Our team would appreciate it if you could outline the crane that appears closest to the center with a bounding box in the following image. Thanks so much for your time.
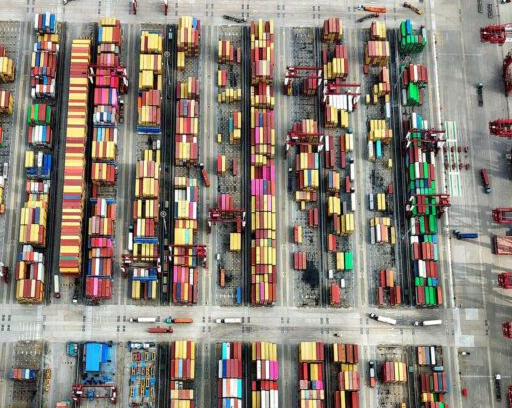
[206,213,247,239]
